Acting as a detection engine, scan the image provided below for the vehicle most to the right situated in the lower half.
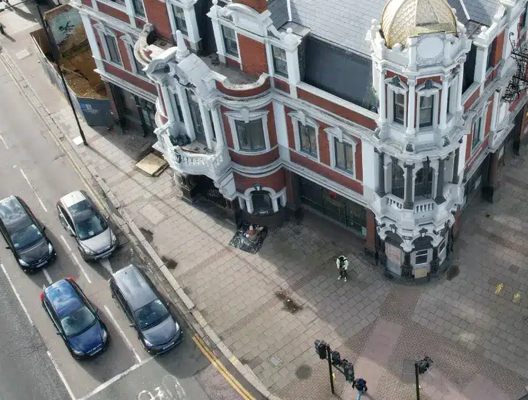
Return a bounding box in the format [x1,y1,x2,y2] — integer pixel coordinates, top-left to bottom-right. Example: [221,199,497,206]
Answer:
[103,264,186,361]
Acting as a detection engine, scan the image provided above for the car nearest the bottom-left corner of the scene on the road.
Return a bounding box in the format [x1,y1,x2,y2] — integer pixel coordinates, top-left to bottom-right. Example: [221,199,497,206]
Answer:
[33,270,112,368]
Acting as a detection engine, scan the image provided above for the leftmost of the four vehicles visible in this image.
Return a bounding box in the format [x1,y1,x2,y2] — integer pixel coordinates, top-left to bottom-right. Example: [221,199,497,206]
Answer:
[0,192,60,281]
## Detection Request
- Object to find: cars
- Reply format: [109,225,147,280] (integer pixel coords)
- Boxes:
[103,264,186,361]
[52,188,123,269]
[0,192,60,281]
[33,270,112,368]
